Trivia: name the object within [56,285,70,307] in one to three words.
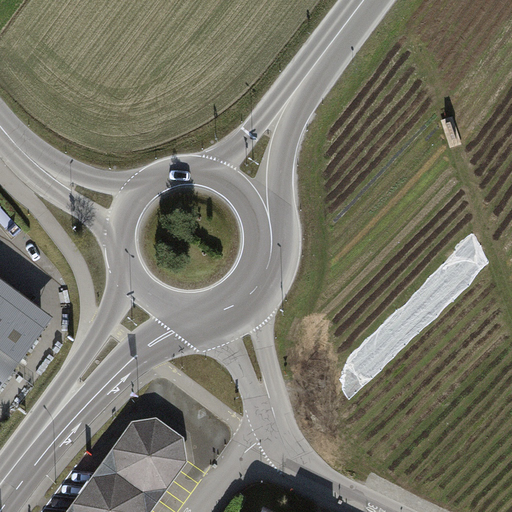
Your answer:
vehicle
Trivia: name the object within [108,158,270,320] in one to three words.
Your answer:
roundabout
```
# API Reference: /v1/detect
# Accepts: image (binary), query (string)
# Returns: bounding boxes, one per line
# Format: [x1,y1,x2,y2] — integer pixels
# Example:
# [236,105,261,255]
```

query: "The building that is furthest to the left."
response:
[0,278,52,388]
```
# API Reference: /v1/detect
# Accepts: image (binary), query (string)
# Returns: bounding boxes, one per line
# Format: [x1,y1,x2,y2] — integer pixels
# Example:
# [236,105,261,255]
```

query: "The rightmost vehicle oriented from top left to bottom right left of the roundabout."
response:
[25,241,42,262]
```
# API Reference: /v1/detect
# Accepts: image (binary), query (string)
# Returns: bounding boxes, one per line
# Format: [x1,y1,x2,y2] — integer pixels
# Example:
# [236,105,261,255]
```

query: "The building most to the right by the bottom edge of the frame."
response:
[72,418,187,512]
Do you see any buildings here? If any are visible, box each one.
[72,418,187,512]
[0,278,52,388]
